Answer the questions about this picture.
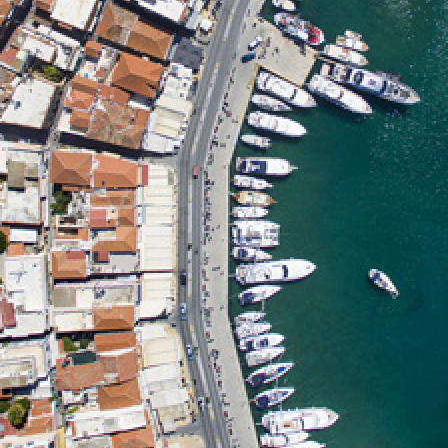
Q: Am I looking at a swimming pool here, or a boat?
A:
boat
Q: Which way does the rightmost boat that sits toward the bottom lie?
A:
on a diagonal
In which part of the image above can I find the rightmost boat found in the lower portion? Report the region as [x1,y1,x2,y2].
[368,267,400,301]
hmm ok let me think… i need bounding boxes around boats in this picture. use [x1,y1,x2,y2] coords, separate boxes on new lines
[235,190,281,207]
[228,175,271,192]
[230,259,318,287]
[235,310,266,327]
[231,158,299,176]
[242,112,308,138]
[274,0,297,11]
[231,286,283,314]
[302,72,375,113]
[368,267,400,301]
[249,387,296,423]
[311,56,422,105]
[242,364,294,404]
[227,249,272,269]
[245,92,293,112]
[322,42,369,65]
[254,432,311,448]
[376,69,402,81]
[273,11,325,44]
[227,206,269,224]
[226,220,280,249]
[243,346,286,366]
[256,408,341,438]
[241,132,271,148]
[336,34,368,52]
[250,69,318,107]
[232,334,285,353]
[343,25,368,42]
[231,322,272,350]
